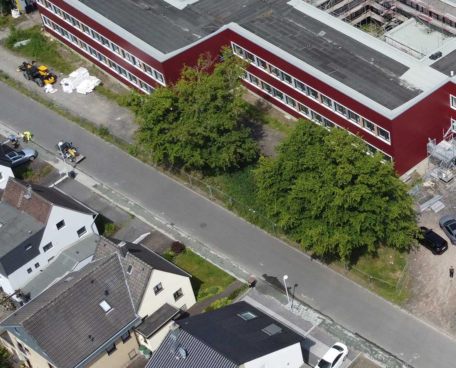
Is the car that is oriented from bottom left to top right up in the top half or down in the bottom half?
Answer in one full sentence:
It is in the bottom half that the car that is oriented from bottom left to top right appears.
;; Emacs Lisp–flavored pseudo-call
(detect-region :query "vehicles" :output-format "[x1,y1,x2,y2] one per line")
[311,338,356,368]
[57,136,87,167]
[7,147,46,168]
[413,222,452,258]
[14,66,57,89]
[437,213,456,249]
